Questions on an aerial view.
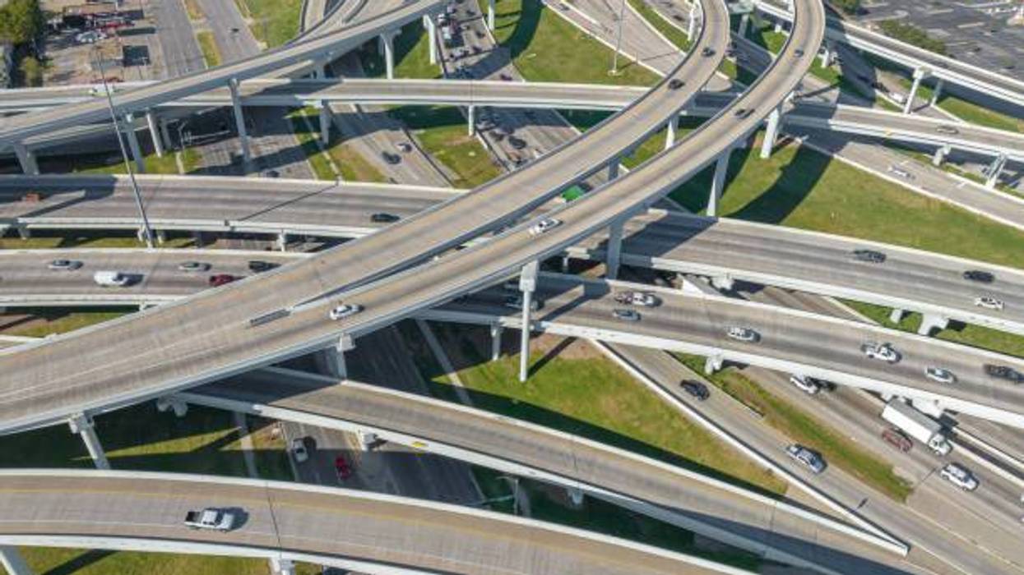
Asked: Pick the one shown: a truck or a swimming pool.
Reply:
truck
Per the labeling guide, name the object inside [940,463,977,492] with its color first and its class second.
white car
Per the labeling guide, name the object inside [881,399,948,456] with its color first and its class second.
white truck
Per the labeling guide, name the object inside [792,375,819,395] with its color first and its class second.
white car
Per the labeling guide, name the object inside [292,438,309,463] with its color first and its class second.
gray car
